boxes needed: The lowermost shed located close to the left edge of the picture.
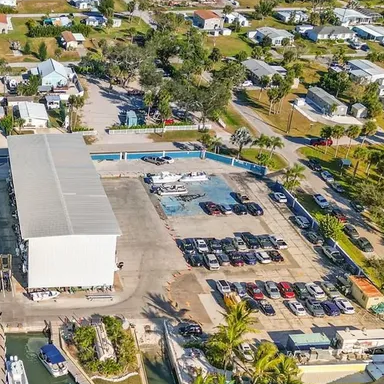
[7,133,122,286]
